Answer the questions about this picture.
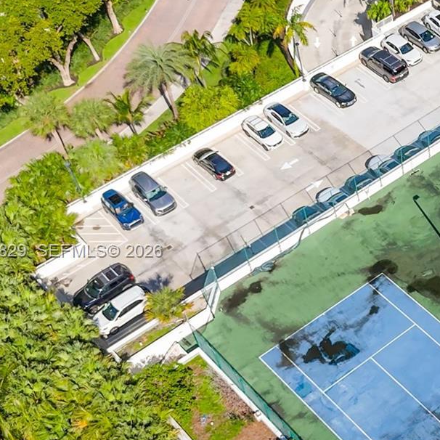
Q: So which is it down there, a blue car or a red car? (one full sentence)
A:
I can see a blue car in this picture.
